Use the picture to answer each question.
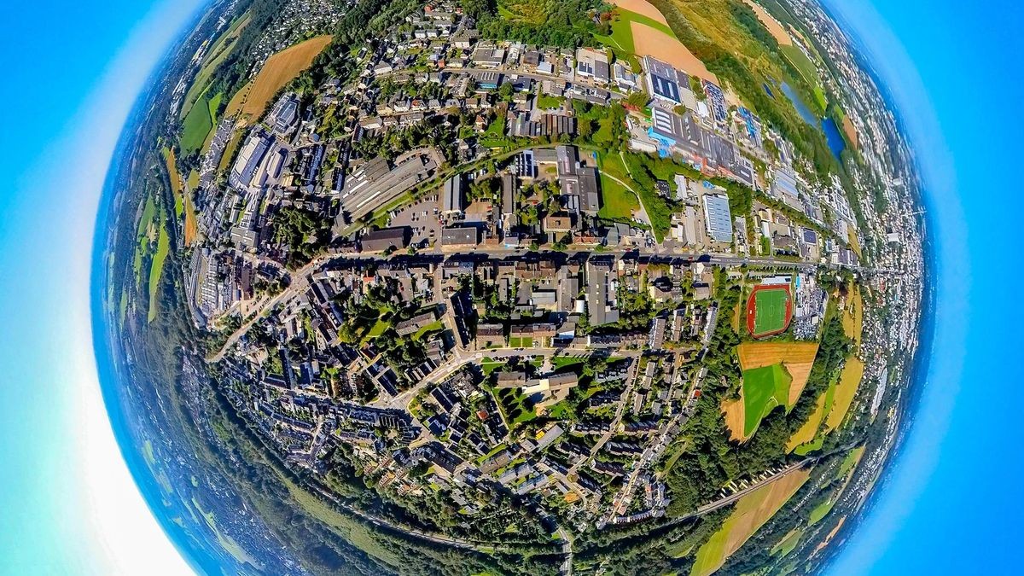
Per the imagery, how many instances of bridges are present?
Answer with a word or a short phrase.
1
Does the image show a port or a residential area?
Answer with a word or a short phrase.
residential area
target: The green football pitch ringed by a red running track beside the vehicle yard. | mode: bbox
[747,283,793,339]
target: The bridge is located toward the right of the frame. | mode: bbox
[693,444,862,516]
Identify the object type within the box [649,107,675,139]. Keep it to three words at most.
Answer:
building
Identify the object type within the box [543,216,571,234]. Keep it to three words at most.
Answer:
house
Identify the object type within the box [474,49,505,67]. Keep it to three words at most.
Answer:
building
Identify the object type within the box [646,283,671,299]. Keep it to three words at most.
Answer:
house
